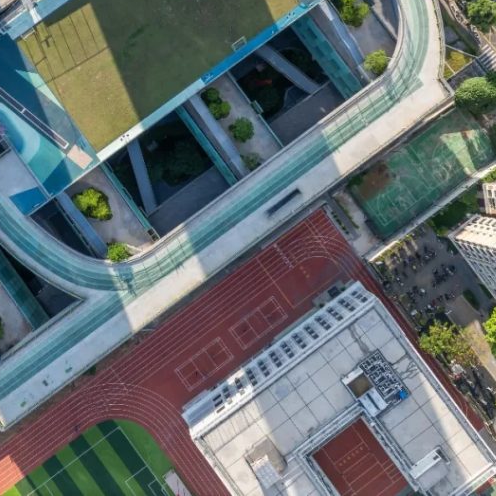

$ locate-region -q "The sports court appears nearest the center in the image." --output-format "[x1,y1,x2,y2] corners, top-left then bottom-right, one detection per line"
[229,297,288,349]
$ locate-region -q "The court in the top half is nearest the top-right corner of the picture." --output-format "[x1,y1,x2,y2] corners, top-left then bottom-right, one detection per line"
[348,108,492,238]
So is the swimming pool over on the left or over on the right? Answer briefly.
left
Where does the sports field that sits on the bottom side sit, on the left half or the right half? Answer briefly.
left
